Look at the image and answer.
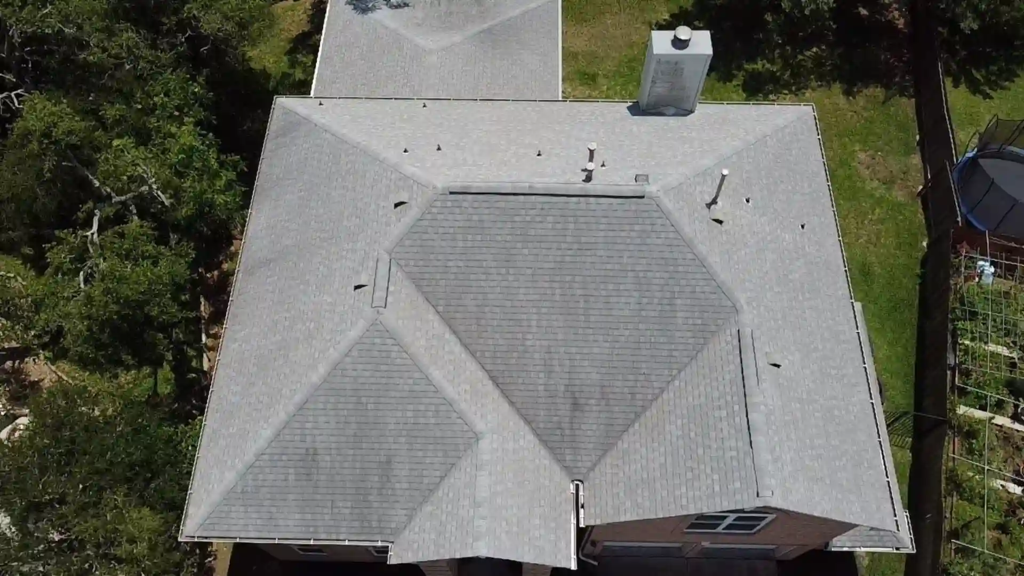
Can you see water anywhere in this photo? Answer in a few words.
No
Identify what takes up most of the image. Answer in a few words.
buildings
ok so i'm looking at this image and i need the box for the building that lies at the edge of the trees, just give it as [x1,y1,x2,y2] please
[178,0,920,576]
